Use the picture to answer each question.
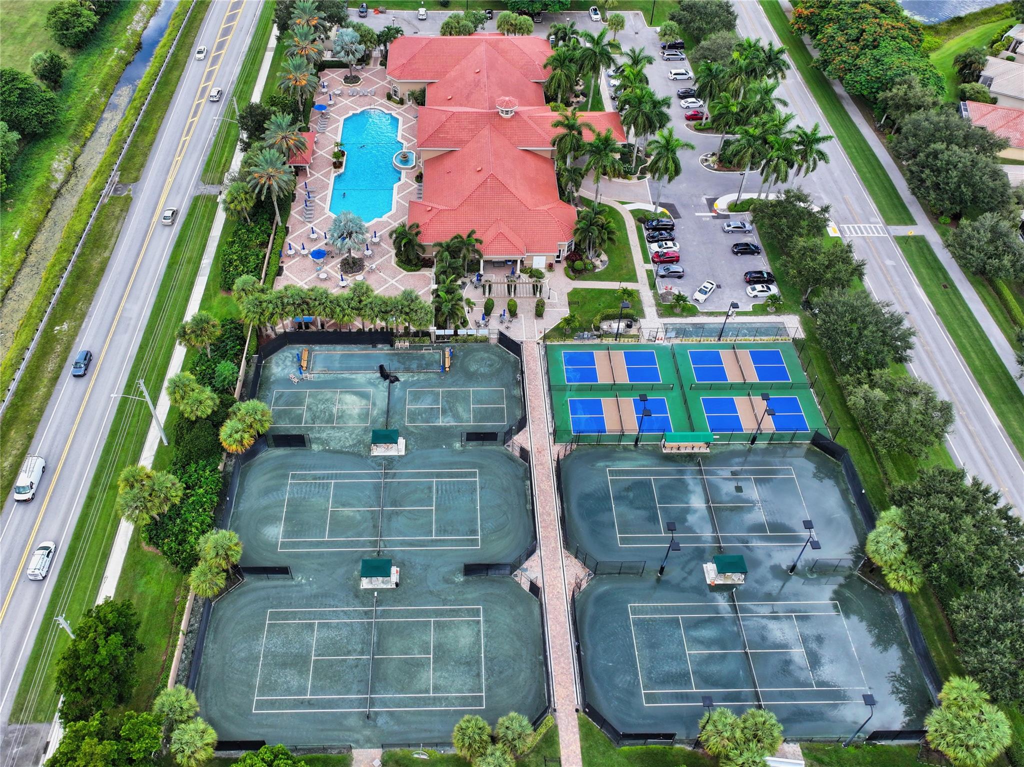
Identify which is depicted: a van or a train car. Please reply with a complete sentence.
Looking from above, you can make out a van.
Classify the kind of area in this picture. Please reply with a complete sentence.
What you see here is a sports ground.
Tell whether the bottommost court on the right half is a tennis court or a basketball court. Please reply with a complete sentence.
It turns out the bottommost court on the right half is a tennis court.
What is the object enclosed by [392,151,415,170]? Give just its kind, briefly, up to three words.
fountain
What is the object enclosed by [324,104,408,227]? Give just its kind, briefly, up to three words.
swimming pool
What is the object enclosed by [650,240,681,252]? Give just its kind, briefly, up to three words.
vehicle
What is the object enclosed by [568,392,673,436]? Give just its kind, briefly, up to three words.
sports court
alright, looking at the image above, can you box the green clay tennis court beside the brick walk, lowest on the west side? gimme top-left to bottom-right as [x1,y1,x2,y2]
[188,576,550,750]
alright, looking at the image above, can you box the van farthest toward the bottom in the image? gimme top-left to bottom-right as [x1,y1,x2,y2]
[26,540,57,579]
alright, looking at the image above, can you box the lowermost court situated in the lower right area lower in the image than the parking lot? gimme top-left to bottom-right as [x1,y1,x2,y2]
[576,571,928,741]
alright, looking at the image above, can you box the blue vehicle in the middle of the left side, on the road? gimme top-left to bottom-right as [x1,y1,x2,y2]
[72,348,94,376]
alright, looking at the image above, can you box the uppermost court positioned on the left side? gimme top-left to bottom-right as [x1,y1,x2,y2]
[245,343,526,449]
